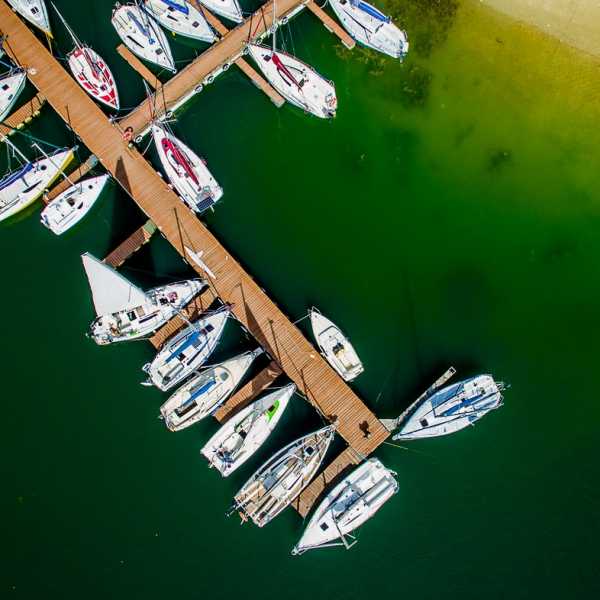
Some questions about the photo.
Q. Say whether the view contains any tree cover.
No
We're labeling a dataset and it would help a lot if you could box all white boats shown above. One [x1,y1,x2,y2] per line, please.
[158,0,227,50]
[236,0,340,127]
[202,367,321,476]
[289,455,401,560]
[11,0,57,59]
[39,147,117,236]
[0,105,91,224]
[154,345,278,432]
[203,0,258,32]
[141,298,240,393]
[84,253,210,351]
[285,305,366,386]
[322,0,414,68]
[388,378,509,441]
[141,80,223,214]
[112,0,202,84]
[0,59,42,126]
[56,7,130,124]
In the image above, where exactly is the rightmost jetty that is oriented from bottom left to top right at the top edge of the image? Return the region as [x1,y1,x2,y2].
[117,0,308,144]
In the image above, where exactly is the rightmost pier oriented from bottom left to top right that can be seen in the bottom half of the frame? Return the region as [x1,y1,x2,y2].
[292,449,366,520]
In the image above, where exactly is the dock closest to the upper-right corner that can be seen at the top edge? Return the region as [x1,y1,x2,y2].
[301,0,355,50]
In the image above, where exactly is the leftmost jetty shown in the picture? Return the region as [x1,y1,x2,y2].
[0,92,51,142]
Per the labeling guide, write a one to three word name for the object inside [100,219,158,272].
pier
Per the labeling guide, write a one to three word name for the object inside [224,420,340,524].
boat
